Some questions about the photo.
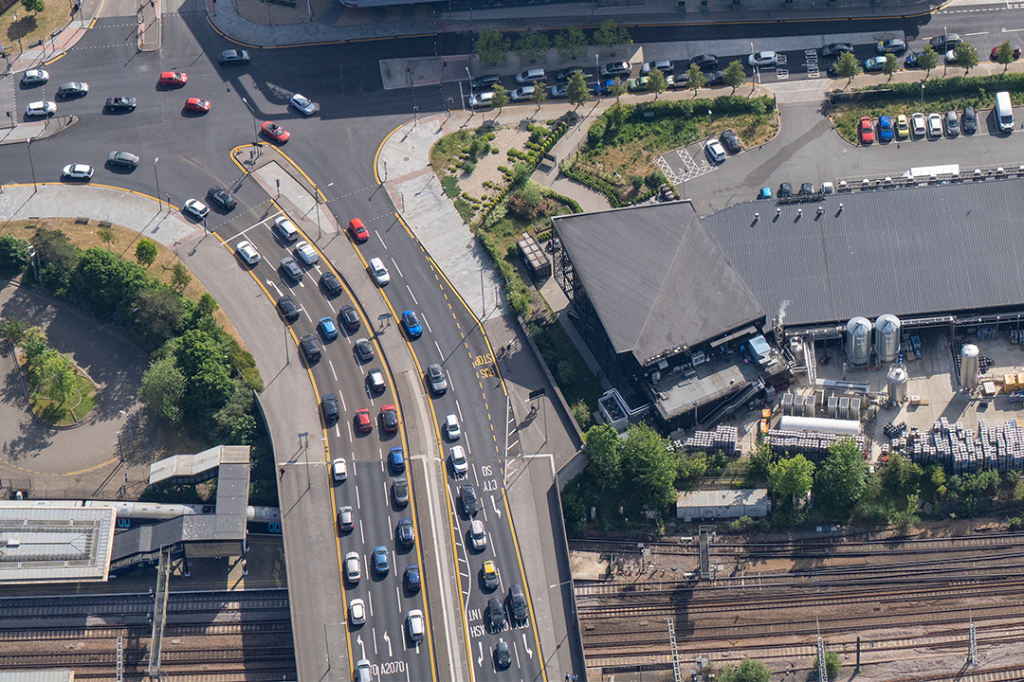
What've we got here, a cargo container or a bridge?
bridge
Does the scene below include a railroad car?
Yes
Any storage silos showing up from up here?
Yes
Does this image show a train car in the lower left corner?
Yes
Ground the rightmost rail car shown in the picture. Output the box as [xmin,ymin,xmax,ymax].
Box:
[251,513,283,540]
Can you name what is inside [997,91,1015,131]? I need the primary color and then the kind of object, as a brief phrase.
white vehicle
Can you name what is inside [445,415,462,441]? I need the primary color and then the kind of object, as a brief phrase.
white car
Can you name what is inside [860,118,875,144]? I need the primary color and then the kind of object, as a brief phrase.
red car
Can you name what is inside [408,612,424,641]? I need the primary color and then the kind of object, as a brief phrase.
white car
